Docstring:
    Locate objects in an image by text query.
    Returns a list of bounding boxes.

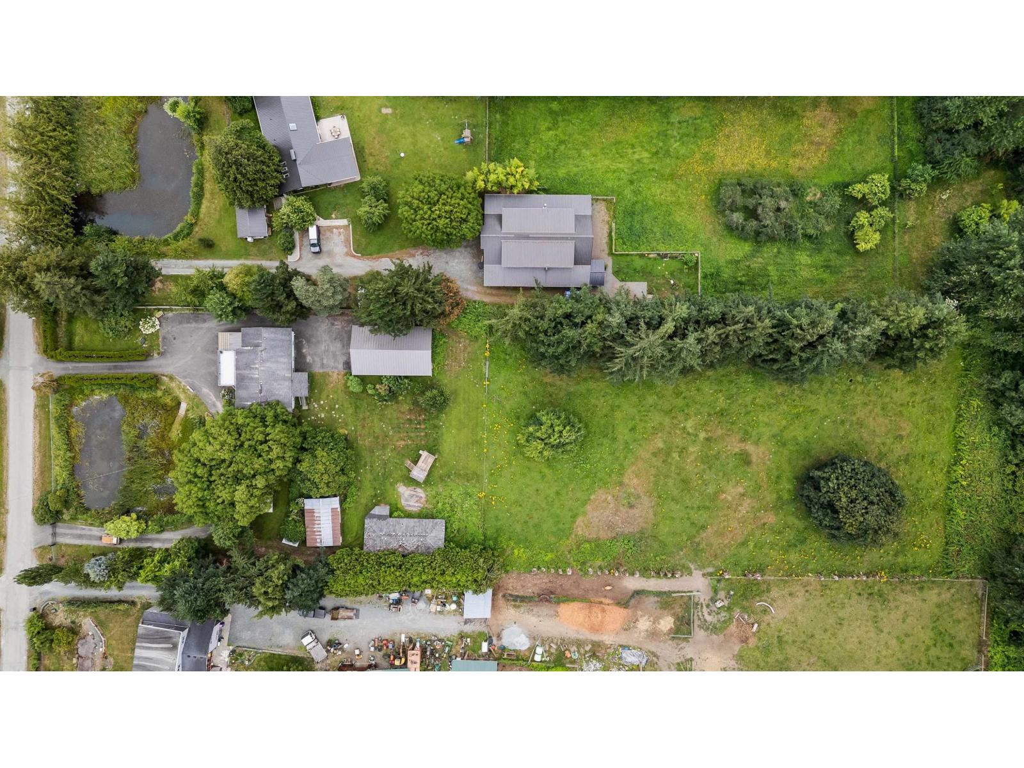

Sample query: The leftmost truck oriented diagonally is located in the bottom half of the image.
[301,631,327,665]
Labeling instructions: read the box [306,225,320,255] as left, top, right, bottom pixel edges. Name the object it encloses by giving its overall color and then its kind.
white vehicle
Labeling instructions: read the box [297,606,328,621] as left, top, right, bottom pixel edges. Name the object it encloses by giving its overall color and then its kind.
gray vehicle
